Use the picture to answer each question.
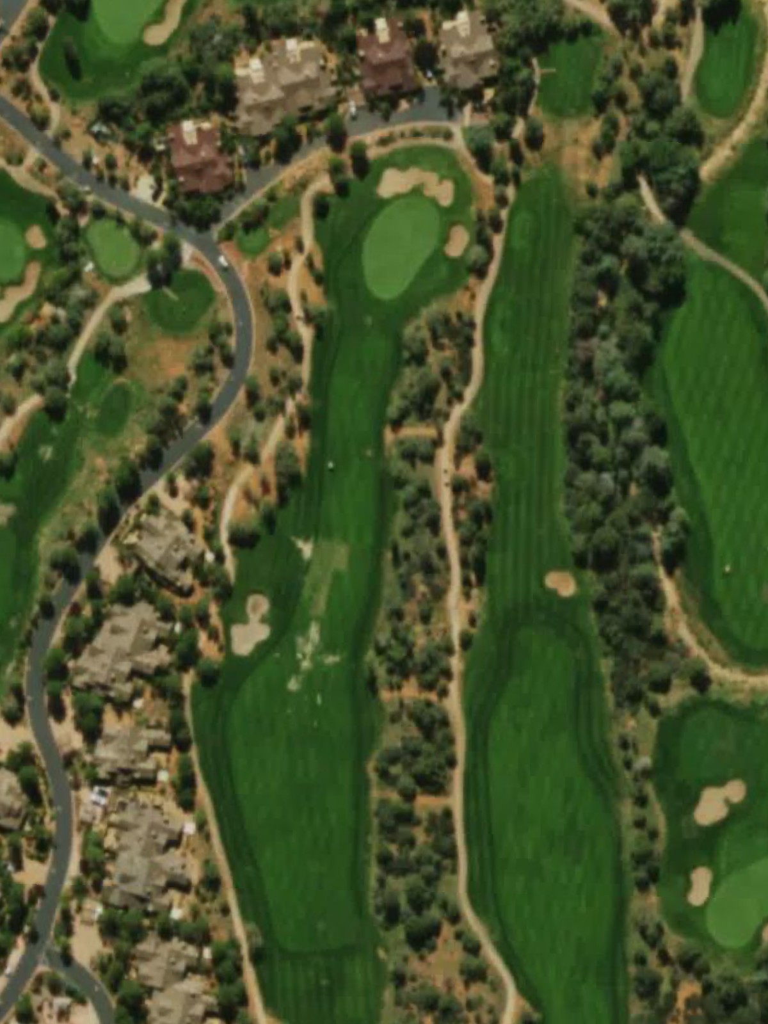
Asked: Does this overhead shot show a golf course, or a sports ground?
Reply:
golf course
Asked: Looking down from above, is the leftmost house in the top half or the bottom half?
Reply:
bottom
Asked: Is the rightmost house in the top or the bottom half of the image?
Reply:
top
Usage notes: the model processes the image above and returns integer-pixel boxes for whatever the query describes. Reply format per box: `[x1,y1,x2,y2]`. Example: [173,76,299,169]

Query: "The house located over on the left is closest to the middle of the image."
[126,509,205,590]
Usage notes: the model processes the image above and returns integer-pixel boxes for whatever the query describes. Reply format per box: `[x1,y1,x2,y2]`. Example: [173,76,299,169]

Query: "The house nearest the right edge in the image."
[438,6,502,89]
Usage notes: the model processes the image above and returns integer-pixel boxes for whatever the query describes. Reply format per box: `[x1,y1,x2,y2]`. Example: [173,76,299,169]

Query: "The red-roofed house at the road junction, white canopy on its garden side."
[156,118,235,195]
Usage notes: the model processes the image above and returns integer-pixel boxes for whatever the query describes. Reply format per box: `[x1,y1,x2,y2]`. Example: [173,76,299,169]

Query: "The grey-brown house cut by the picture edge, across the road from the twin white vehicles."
[0,767,28,831]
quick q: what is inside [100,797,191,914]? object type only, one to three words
house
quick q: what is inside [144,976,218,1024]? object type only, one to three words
house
